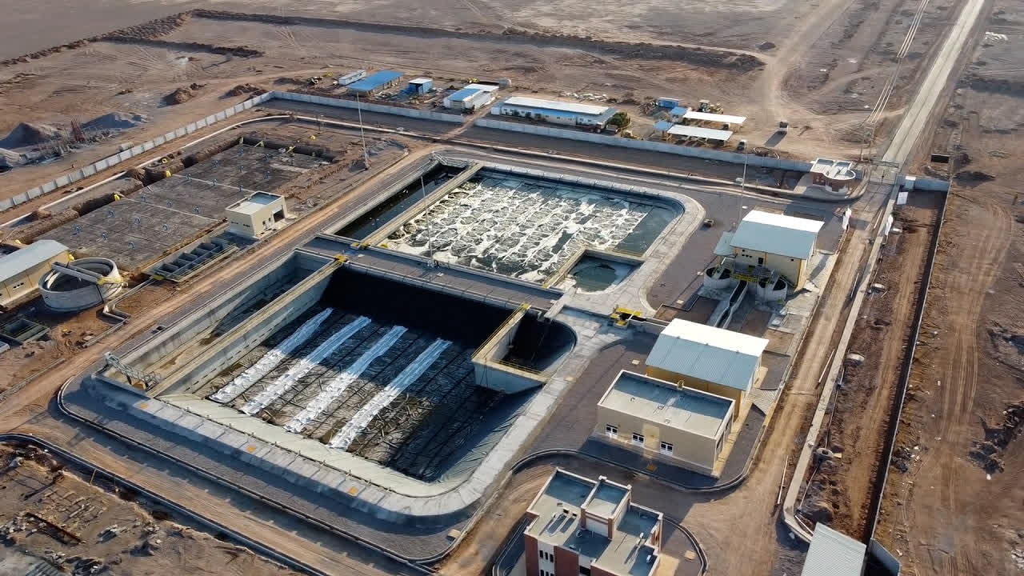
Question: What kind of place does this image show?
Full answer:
This image shows an industrial area.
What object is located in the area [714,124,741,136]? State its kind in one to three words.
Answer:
vehicle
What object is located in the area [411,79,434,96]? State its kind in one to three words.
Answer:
shed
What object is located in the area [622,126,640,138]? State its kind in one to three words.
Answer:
vehicle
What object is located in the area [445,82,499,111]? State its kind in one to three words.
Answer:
building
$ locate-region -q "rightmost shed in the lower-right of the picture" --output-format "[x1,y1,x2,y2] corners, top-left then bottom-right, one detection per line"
[801,524,869,576]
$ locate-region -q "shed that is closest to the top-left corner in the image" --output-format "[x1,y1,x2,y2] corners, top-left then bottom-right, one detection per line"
[0,236,71,313]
